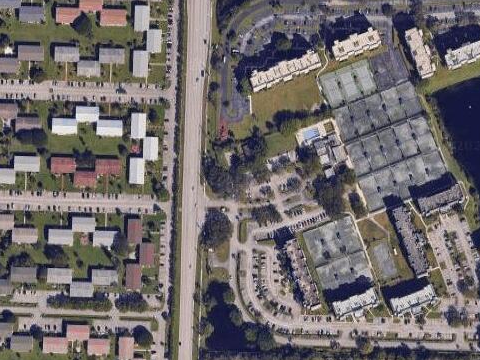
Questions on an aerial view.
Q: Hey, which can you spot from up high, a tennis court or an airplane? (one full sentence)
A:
Visible in the photo is a tennis court.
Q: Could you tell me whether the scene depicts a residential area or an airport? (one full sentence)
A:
The picture captures a residential area.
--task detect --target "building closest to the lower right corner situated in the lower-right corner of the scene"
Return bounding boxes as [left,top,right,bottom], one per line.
[390,282,436,313]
